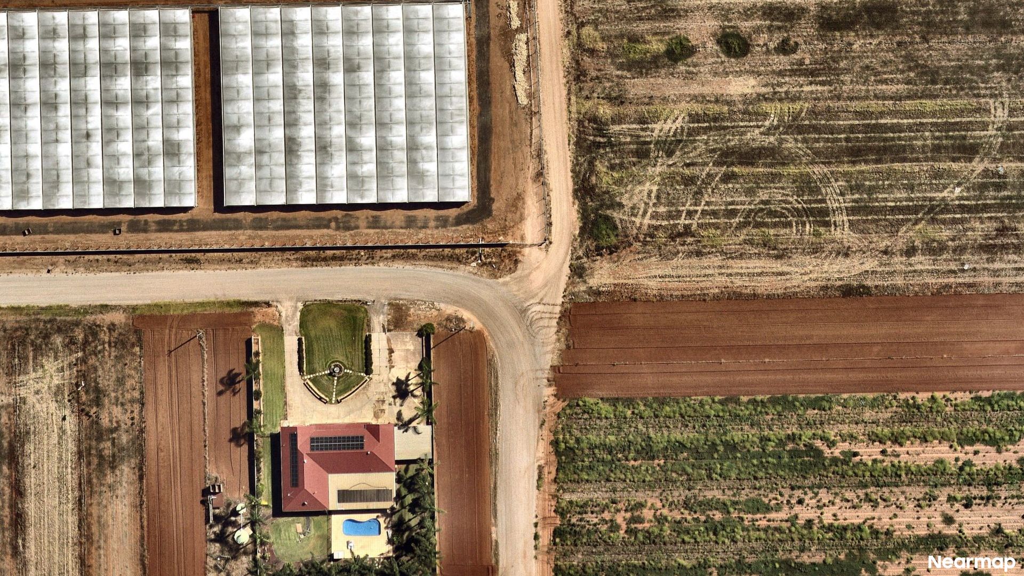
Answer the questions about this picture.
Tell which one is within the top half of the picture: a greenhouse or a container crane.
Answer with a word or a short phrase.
greenhouse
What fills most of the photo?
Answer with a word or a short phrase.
farmland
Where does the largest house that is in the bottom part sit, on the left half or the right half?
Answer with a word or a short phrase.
left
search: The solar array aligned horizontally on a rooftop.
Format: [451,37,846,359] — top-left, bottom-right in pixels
[310,435,364,450]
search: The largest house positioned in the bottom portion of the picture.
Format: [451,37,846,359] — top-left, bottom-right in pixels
[280,424,395,512]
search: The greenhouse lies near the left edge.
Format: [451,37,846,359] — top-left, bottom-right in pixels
[0,7,196,210]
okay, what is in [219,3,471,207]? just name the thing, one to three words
greenhouse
